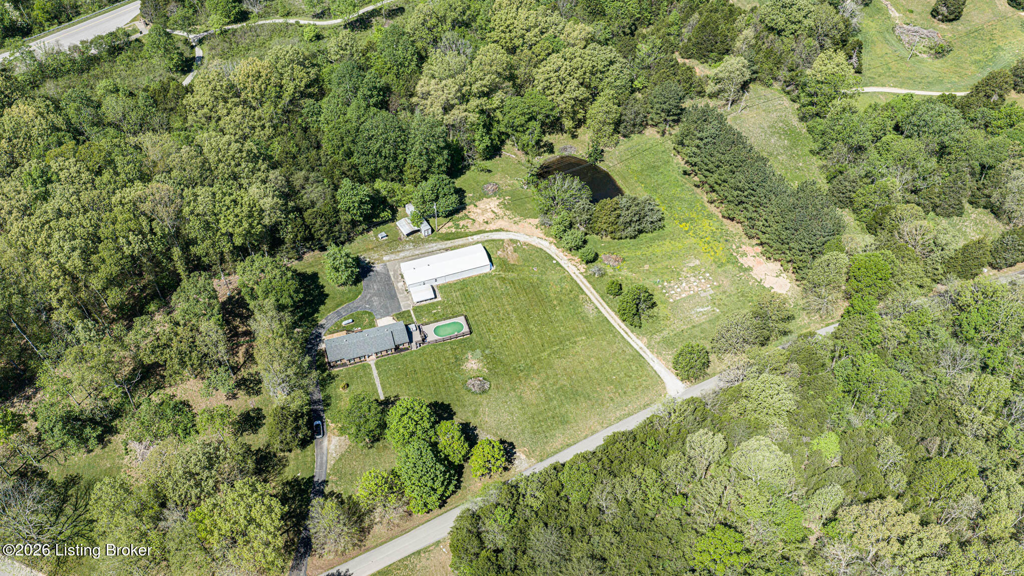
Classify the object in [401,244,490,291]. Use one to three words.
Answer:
barn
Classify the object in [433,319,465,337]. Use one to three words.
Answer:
swimming pool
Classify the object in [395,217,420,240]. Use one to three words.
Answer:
shed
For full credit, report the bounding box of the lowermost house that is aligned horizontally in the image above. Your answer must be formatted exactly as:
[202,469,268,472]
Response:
[325,322,409,367]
